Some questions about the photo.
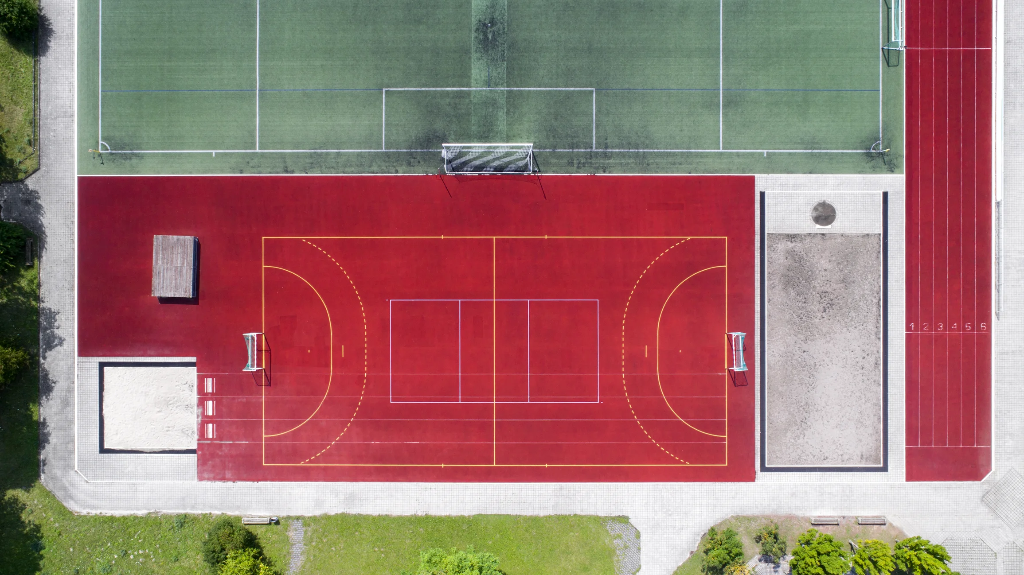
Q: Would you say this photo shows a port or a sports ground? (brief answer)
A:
sports ground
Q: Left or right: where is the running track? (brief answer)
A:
right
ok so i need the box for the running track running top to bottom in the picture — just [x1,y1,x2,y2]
[906,0,992,481]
